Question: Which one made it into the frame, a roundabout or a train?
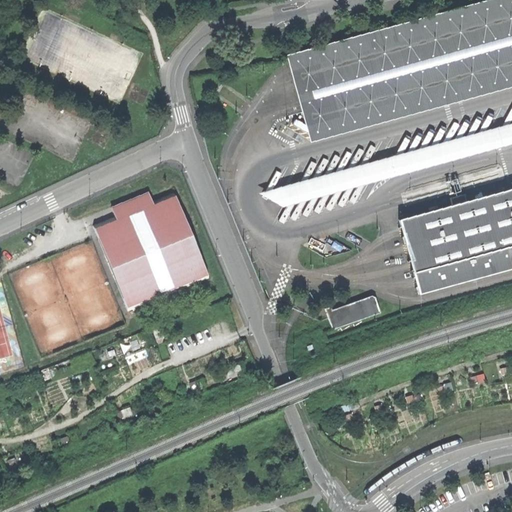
train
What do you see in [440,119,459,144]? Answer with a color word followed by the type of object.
white vehicle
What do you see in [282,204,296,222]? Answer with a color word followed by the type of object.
white vehicle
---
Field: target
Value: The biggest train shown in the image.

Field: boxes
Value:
[364,436,463,494]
